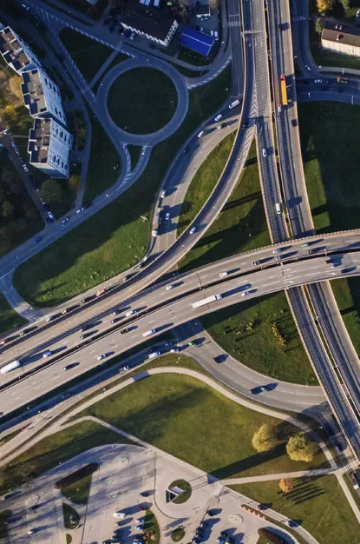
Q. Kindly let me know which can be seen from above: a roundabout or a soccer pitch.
roundabout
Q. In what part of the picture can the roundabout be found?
top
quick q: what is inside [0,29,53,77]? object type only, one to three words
building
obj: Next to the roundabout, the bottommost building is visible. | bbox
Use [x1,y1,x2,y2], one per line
[27,118,71,171]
